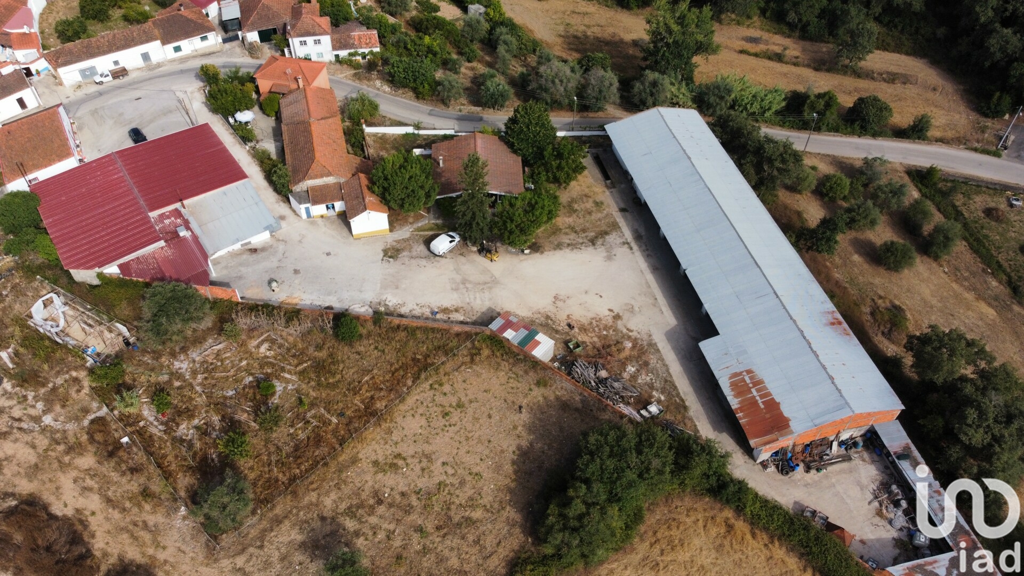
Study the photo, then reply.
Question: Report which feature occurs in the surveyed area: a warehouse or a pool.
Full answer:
I can see a warehouse in this picture.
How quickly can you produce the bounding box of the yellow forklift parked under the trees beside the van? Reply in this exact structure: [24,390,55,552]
[476,242,500,263]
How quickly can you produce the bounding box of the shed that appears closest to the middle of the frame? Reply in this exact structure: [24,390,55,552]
[488,311,554,363]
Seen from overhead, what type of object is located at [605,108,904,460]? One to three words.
warehouse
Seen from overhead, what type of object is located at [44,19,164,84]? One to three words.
barn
